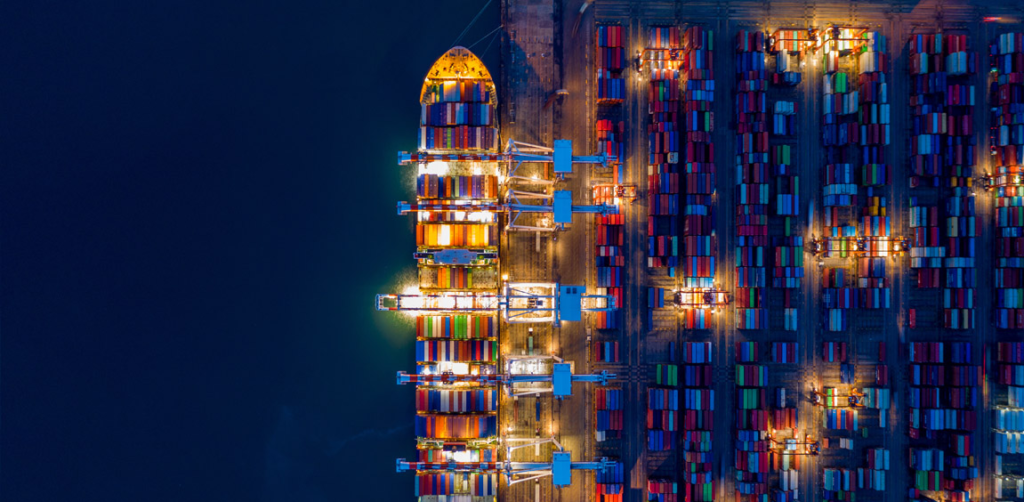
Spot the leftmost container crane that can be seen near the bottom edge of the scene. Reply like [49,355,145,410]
[396,424,617,489]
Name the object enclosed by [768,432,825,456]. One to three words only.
container crane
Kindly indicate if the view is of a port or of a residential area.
port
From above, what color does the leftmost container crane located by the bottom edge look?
blue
